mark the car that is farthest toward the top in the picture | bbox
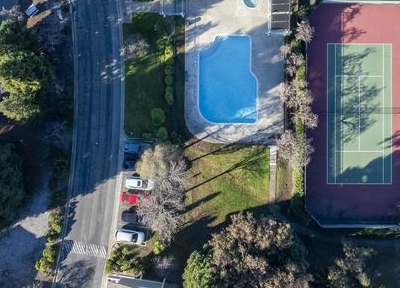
[123,141,149,154]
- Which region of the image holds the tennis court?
right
